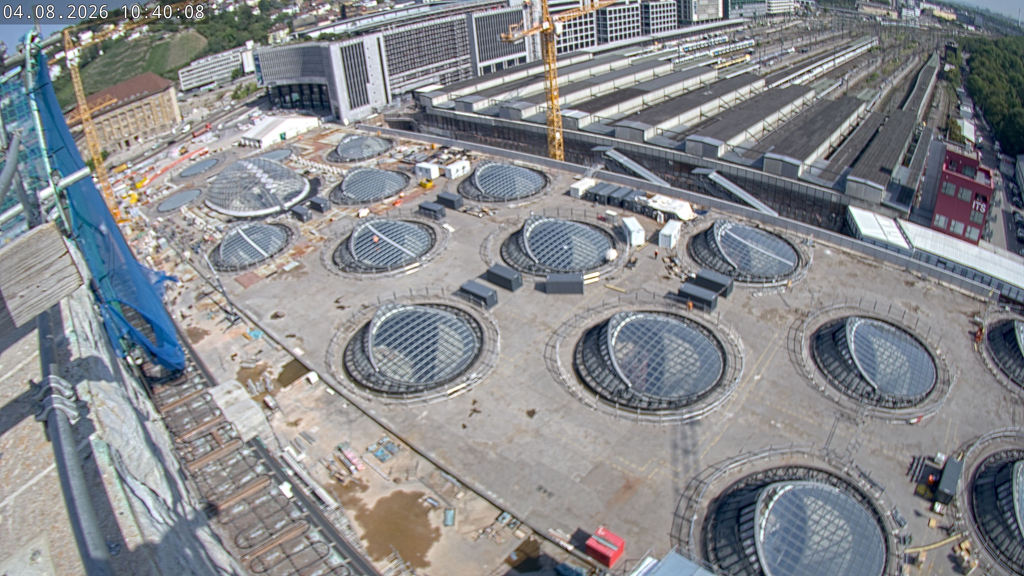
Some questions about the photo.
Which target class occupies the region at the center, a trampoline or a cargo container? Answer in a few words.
cargo container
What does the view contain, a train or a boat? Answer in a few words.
train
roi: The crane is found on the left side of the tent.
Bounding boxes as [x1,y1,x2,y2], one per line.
[48,0,228,220]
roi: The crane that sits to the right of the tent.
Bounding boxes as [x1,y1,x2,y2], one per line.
[513,0,634,161]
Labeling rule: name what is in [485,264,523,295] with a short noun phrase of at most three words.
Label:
shipping container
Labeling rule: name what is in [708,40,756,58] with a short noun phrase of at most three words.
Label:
train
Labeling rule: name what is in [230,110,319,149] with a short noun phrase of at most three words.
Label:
tent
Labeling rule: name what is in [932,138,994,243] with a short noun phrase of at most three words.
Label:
building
